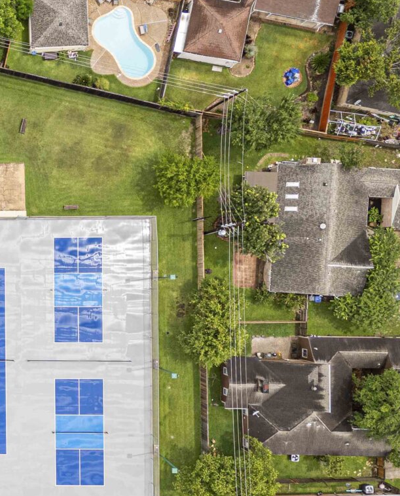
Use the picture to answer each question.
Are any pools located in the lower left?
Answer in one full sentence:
No, there is no pool in the lower left.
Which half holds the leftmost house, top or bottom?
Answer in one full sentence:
The leftmost house sits in the top half of the picture.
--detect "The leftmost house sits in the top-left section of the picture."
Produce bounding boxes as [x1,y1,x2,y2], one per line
[29,0,90,51]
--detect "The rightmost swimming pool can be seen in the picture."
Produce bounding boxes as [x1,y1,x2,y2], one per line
[91,4,157,80]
